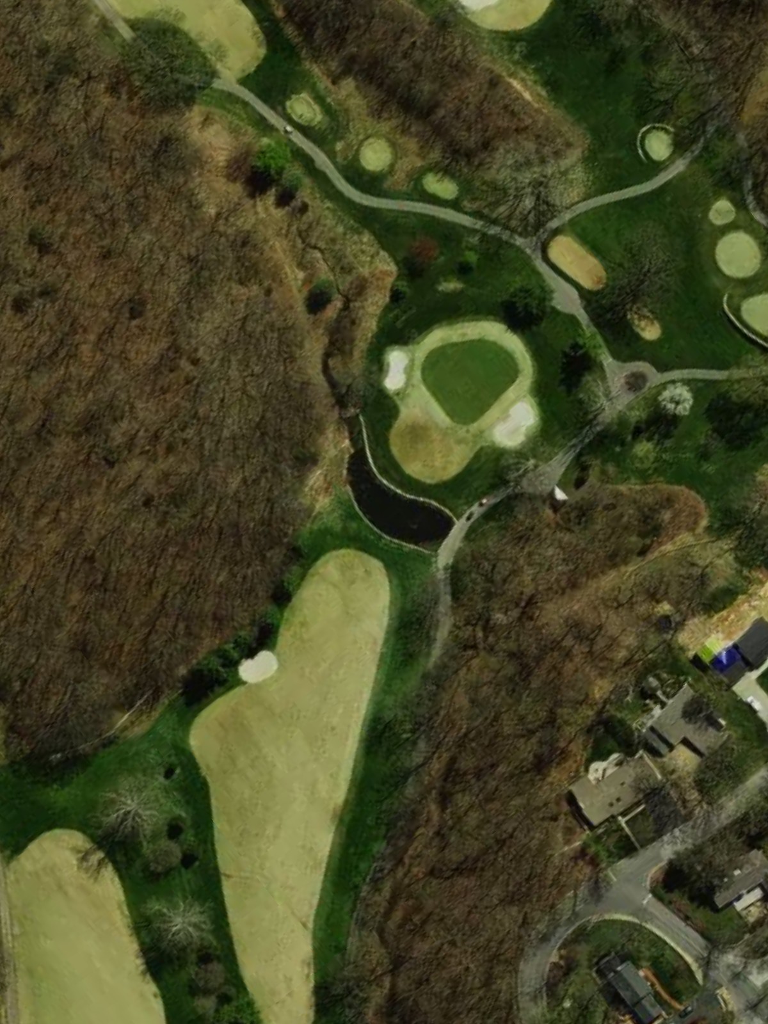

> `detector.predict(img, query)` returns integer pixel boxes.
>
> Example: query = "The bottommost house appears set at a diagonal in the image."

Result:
[591,954,671,1024]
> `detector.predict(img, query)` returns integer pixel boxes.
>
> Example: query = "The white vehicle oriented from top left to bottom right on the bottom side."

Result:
[746,695,763,712]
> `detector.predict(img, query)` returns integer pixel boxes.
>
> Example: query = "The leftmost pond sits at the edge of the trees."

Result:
[343,414,454,551]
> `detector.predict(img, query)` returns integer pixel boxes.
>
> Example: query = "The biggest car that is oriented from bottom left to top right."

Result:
[677,1004,694,1018]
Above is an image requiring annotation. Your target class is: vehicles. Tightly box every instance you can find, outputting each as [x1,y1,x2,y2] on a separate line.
[677,1004,694,1018]
[481,497,490,505]
[284,124,292,132]
[746,695,763,712]
[466,510,475,520]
